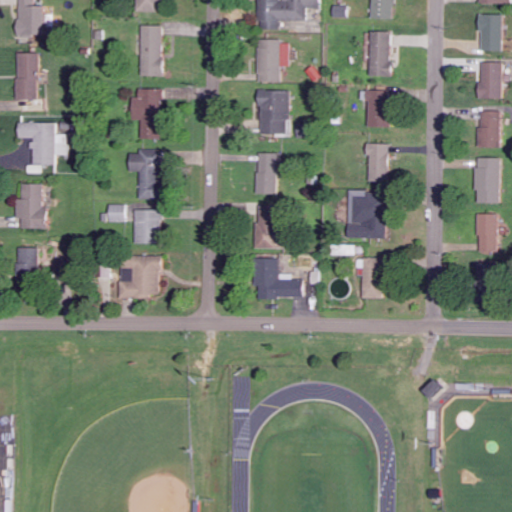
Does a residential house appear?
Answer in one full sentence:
Yes, a residential house is visible in the scene.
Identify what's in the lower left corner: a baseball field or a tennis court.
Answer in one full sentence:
There is a baseball field in the lower left corner.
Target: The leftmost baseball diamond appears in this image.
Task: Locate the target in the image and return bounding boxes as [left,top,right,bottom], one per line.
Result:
[52,397,194,512]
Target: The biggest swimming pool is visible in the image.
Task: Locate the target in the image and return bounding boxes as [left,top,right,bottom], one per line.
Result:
[330,276,350,300]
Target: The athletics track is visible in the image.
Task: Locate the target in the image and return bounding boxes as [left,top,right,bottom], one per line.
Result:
[232,376,397,512]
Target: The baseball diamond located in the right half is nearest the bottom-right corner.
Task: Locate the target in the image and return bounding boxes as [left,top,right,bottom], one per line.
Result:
[436,394,512,512]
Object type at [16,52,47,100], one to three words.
house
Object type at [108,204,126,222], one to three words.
shed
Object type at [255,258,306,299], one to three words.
house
